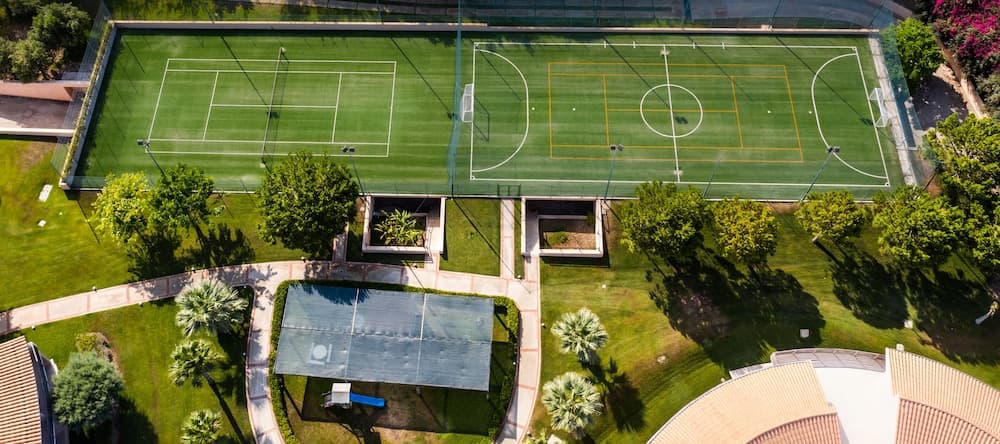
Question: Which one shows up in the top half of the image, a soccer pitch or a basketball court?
soccer pitch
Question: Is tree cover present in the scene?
Yes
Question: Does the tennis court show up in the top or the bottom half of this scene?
top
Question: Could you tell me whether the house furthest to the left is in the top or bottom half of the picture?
bottom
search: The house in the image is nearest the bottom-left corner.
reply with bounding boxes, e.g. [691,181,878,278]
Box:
[0,334,92,444]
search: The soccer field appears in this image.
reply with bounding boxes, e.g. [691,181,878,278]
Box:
[448,30,907,202]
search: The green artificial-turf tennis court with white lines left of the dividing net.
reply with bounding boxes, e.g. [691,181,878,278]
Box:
[72,27,459,194]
